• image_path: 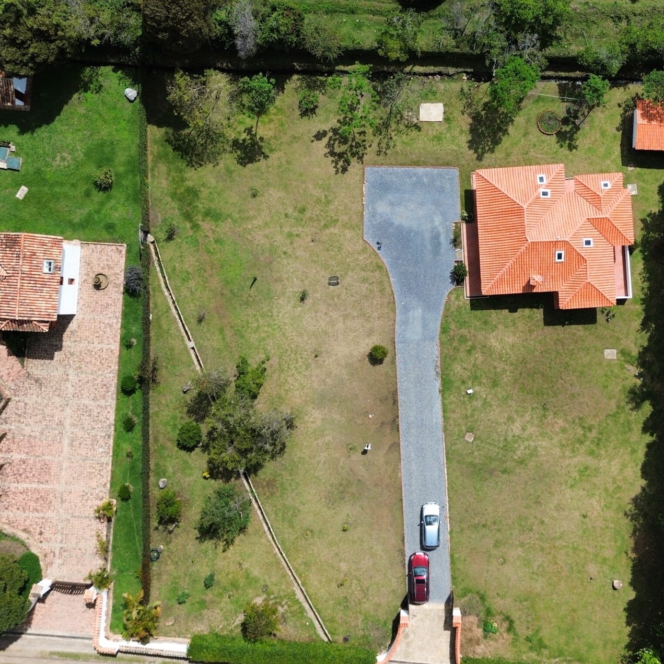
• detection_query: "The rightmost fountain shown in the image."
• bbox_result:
[90,273,109,288]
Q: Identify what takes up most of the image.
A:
grass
